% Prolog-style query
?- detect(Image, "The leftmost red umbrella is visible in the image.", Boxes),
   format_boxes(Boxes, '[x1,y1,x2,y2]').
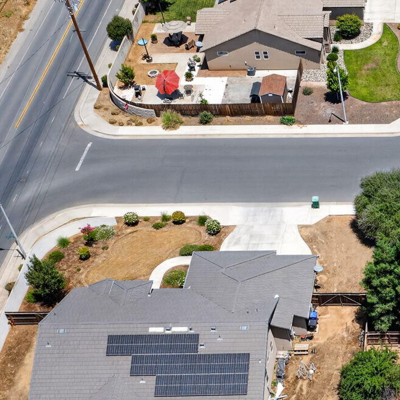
[146,75,176,104]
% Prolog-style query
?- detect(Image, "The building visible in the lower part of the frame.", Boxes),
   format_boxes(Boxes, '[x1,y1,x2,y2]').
[26,250,319,400]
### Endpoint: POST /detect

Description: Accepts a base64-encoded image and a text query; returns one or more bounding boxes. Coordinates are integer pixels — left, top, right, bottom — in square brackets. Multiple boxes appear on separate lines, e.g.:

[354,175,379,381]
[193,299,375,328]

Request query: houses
[26,250,319,400]
[195,0,367,70]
